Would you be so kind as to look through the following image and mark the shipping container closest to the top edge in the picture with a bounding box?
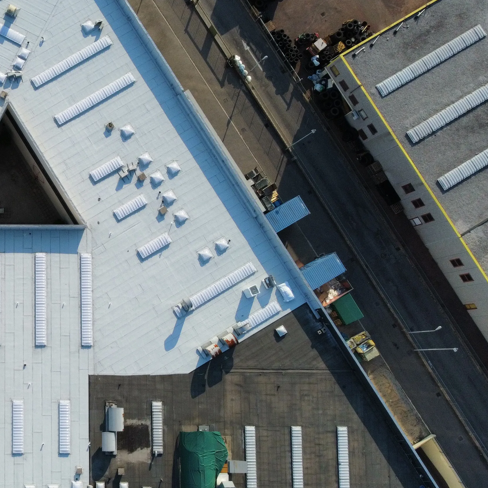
[261,195,310,234]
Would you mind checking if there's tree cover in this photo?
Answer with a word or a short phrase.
No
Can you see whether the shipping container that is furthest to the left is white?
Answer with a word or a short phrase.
No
